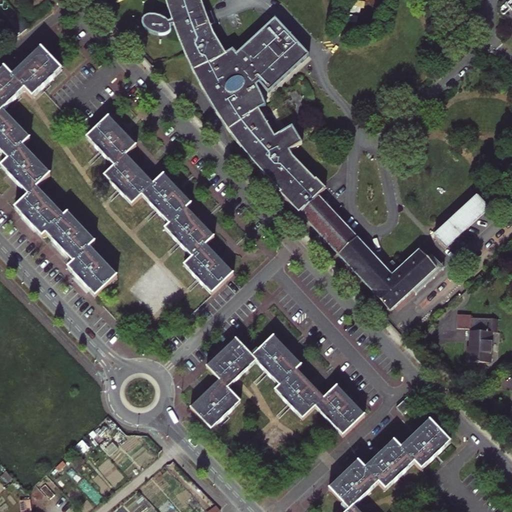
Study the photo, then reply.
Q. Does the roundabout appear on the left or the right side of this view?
left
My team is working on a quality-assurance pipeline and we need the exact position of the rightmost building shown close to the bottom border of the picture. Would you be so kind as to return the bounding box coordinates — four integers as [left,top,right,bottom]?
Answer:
[328,417,450,512]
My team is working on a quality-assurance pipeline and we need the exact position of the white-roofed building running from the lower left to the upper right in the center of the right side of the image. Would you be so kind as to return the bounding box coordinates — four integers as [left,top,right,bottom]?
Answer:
[434,194,486,248]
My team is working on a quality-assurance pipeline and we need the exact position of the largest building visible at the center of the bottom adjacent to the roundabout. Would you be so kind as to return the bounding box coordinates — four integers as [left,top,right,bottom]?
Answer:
[192,333,365,436]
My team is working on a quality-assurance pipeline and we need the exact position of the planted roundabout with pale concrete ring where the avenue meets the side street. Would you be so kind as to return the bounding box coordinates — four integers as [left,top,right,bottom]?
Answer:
[106,358,174,428]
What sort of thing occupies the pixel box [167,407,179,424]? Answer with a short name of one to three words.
vehicle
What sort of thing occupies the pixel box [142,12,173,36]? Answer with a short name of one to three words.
building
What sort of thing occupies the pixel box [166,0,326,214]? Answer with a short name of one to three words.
building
